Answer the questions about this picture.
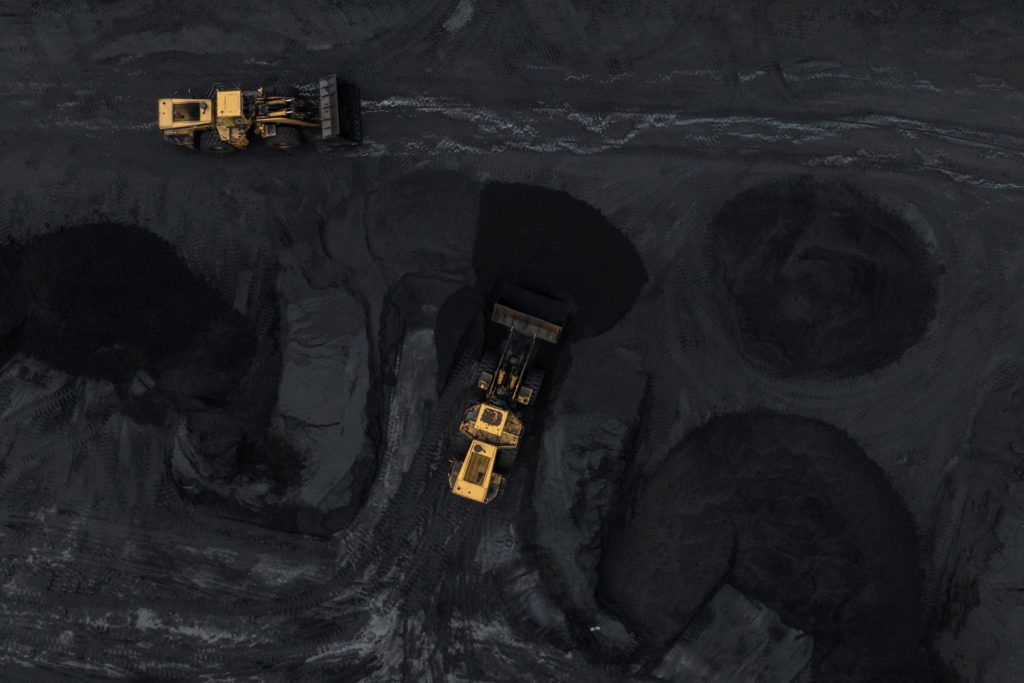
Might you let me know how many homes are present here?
0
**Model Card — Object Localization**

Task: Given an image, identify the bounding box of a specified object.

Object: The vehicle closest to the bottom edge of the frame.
[445,291,563,503]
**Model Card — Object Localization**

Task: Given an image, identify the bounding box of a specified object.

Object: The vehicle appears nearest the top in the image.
[158,74,364,151]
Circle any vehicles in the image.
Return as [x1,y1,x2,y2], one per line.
[445,291,563,503]
[158,74,364,151]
